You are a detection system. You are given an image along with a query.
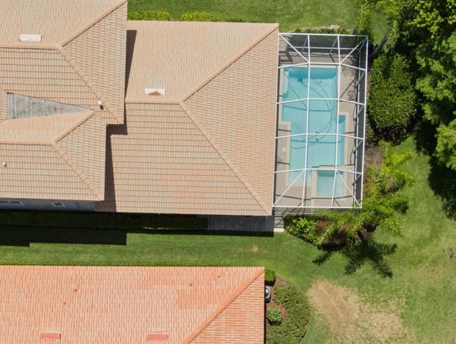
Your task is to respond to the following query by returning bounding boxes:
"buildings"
[0,264,266,344]
[0,0,281,219]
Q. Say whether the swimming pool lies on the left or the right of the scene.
right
